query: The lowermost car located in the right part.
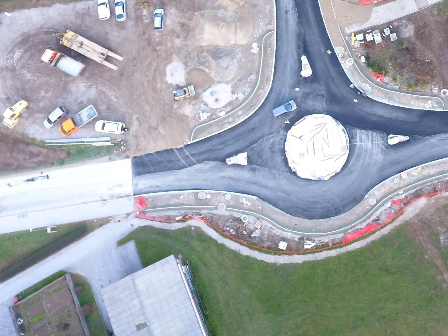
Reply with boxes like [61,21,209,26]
[271,99,298,119]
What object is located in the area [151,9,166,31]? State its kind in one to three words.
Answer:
car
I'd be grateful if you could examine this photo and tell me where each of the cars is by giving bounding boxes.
[271,99,298,119]
[41,105,69,131]
[112,0,128,22]
[95,119,125,136]
[95,0,112,21]
[151,9,166,31]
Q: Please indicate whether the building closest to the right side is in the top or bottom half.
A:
bottom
